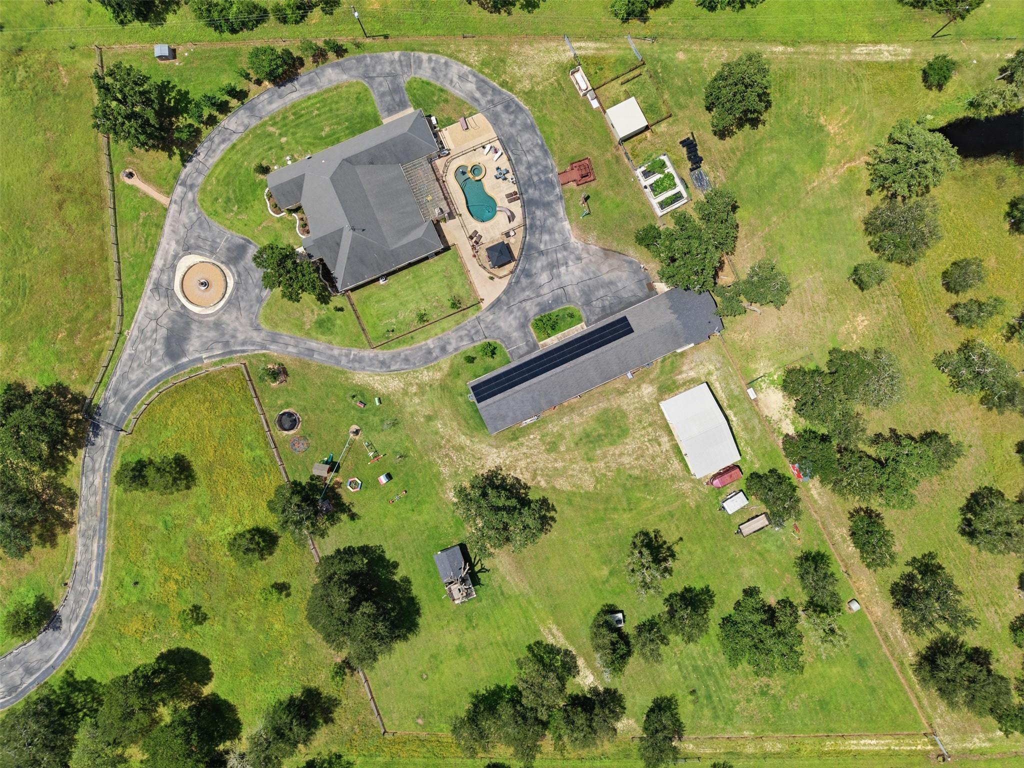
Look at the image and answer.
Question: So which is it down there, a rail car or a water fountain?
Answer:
water fountain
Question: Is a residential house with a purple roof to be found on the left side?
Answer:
No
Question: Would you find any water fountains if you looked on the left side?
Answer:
Yes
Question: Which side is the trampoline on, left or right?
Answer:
left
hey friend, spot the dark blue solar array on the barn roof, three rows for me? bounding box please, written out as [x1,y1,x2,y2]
[471,316,634,404]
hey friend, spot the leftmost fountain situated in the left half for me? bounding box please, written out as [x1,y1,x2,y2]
[180,261,227,307]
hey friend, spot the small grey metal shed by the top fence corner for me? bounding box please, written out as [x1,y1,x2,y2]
[150,40,169,60]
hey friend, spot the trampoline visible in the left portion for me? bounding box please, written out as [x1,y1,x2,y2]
[273,411,299,433]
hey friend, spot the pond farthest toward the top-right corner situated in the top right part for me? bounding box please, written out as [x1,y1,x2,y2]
[930,106,1024,169]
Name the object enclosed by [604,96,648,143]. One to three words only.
shed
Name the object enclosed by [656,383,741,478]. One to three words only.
barn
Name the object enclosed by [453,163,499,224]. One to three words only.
swimming pool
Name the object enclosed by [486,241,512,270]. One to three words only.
gazebo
